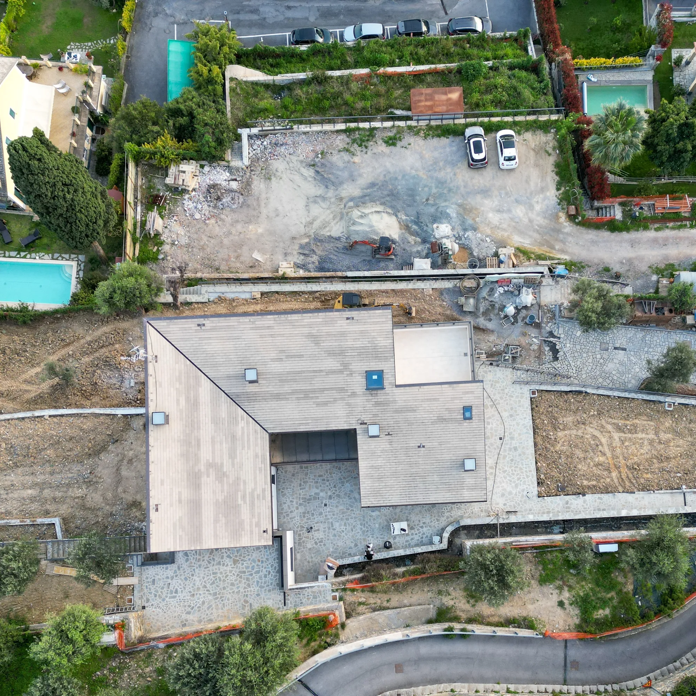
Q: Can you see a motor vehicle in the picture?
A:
Yes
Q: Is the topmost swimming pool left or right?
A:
right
